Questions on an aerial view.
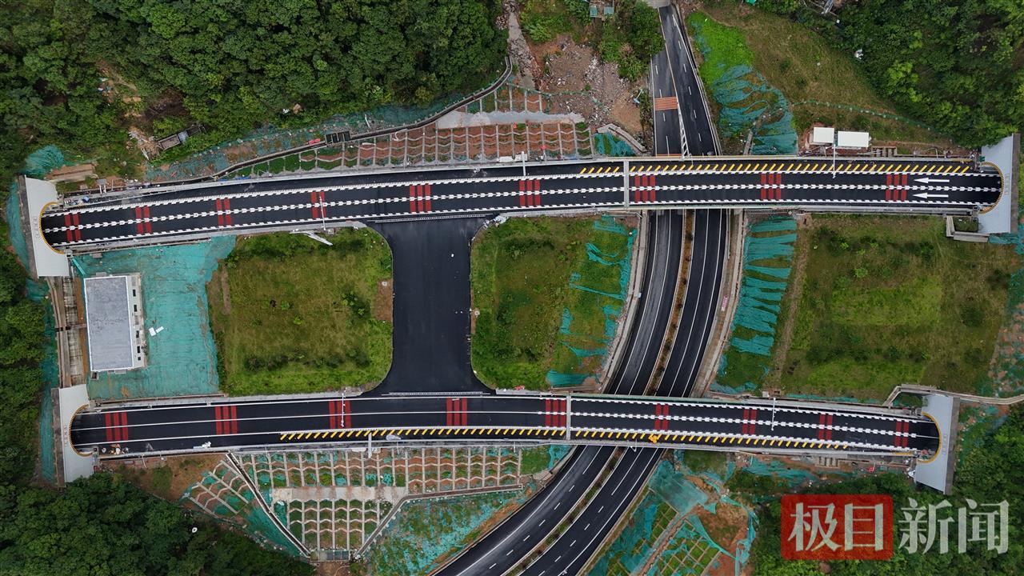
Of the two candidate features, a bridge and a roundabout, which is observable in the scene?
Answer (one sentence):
The image shows a bridge.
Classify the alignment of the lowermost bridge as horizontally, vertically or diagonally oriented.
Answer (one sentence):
The lowermost bridge runs horizontally in the image.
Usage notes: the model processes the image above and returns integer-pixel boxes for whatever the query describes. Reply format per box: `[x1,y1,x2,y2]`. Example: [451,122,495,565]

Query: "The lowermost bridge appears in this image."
[550,392,734,452]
